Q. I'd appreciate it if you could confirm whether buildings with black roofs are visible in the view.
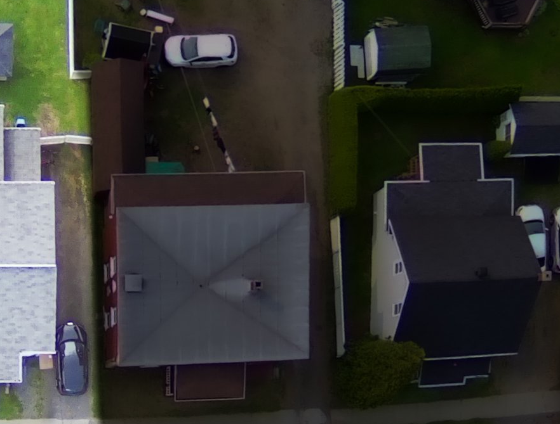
Yes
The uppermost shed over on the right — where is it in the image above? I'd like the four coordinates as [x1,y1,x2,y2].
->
[351,27,431,87]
